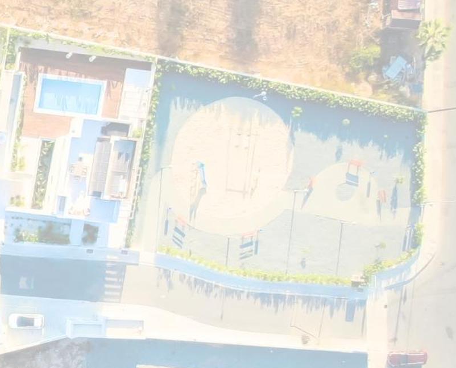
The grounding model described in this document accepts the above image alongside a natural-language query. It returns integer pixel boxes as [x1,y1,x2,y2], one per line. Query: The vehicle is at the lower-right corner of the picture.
[386,350,426,367]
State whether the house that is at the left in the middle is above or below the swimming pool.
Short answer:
below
